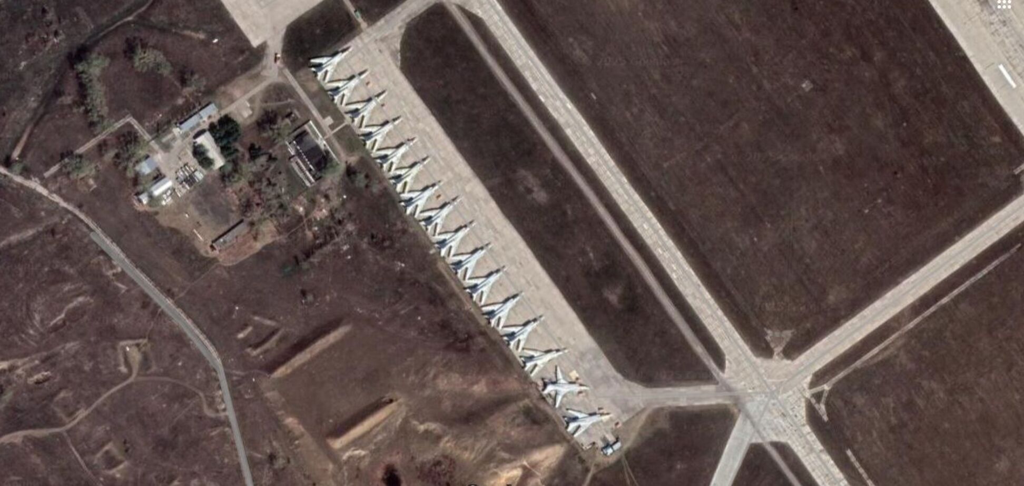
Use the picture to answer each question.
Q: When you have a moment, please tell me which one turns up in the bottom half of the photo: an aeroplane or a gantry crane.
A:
aeroplane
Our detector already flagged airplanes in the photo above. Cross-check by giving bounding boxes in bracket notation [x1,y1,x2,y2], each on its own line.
[388,158,429,192]
[434,222,476,257]
[345,91,386,125]
[421,197,461,232]
[501,317,543,351]
[375,138,416,172]
[482,294,522,328]
[522,350,566,376]
[566,408,612,437]
[450,245,491,279]
[543,368,587,409]
[327,70,367,104]
[359,118,401,151]
[308,48,349,82]
[465,268,507,303]
[399,181,441,216]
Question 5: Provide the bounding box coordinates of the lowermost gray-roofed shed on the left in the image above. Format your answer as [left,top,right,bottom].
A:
[213,221,249,250]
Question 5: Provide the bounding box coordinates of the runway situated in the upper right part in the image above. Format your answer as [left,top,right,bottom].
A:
[929,0,1024,135]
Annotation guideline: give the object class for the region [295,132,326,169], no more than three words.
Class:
building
